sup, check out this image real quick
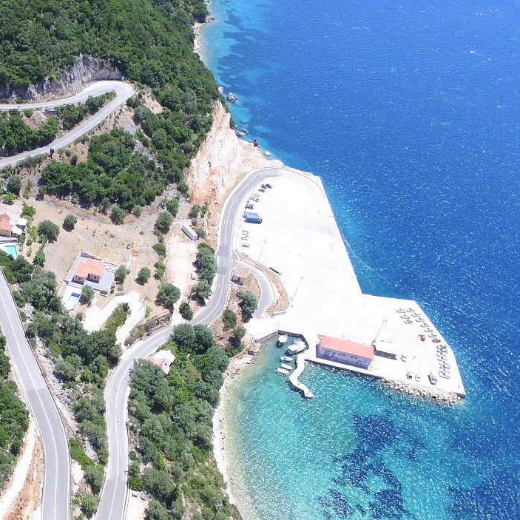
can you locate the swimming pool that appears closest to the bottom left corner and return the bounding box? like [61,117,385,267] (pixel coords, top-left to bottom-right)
[61,291,80,307]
